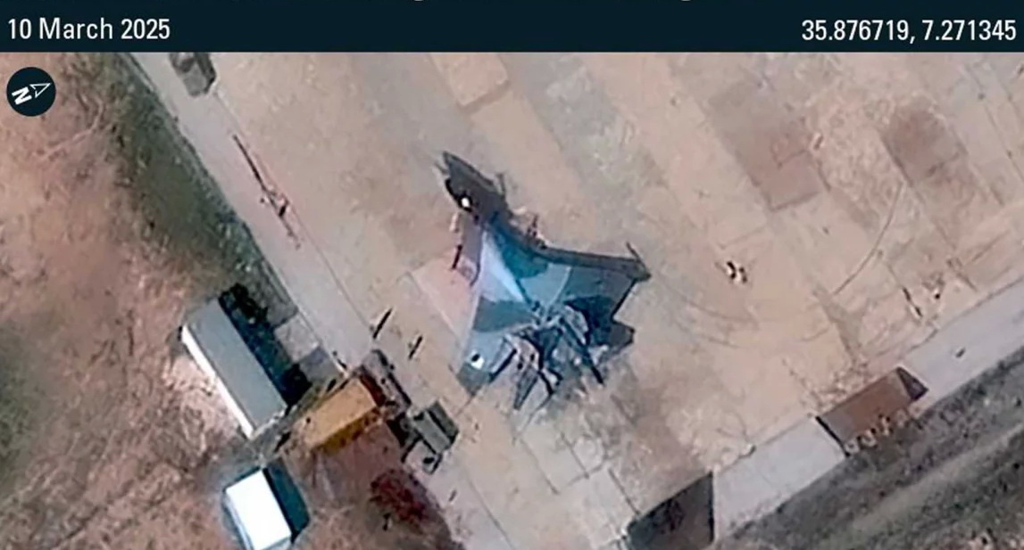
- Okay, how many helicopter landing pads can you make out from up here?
none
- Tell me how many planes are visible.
1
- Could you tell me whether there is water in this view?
No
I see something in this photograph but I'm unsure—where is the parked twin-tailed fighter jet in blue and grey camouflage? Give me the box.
[439,160,645,422]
